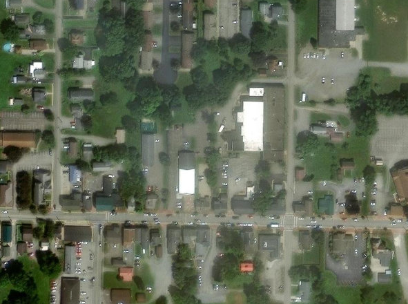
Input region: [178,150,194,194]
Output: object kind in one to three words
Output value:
building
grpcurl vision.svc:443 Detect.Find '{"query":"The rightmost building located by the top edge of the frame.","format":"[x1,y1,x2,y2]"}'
[317,0,355,49]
